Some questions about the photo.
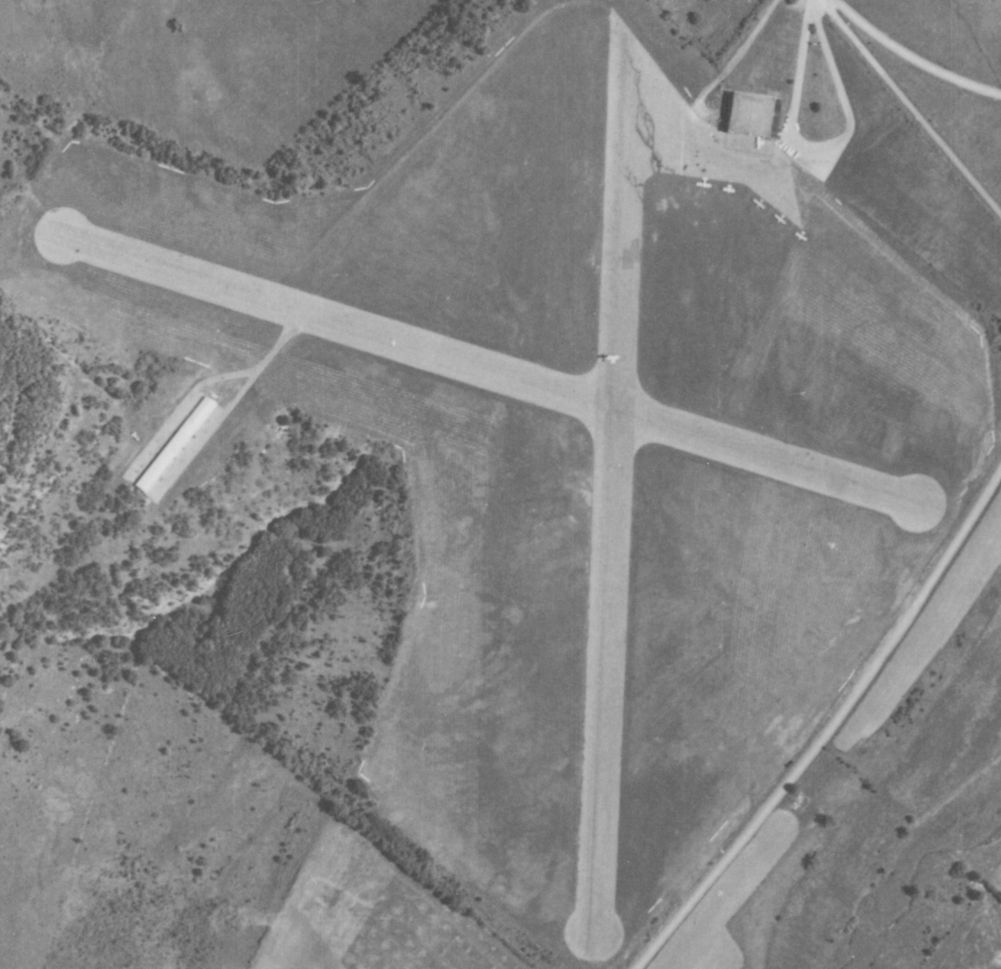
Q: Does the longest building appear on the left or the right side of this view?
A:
left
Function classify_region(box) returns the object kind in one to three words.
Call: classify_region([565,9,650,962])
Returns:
runway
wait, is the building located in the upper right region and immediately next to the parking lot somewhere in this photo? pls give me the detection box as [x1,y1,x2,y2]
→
[728,91,781,137]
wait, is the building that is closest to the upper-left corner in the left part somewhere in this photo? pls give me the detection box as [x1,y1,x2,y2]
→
[137,397,217,494]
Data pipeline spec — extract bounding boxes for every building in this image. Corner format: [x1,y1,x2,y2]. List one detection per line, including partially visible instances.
[728,91,781,137]
[137,397,217,494]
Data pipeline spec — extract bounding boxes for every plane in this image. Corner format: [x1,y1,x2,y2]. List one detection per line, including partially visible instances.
[606,354,621,365]
[757,136,766,149]
[723,183,736,193]
[775,213,786,224]
[696,176,713,188]
[796,230,807,241]
[754,197,765,208]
